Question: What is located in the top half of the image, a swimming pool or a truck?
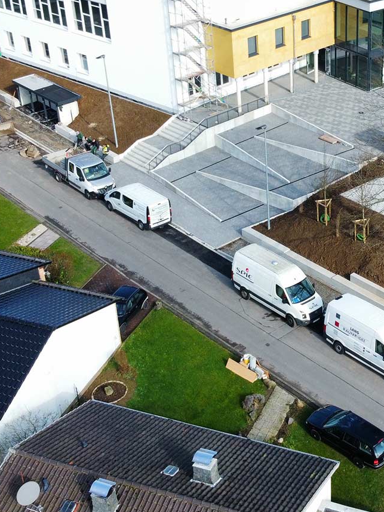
truck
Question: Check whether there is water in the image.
No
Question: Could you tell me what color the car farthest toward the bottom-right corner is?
black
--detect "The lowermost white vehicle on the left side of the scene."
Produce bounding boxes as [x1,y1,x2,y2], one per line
[104,183,171,230]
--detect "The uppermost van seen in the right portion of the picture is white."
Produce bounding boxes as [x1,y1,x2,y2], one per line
[236,241,328,329]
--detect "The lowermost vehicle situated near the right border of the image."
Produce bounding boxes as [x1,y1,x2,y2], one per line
[305,402,384,476]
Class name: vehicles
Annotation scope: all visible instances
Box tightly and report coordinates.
[112,287,158,337]
[43,147,119,197]
[236,241,328,329]
[322,289,384,375]
[305,402,384,476]
[104,183,171,230]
